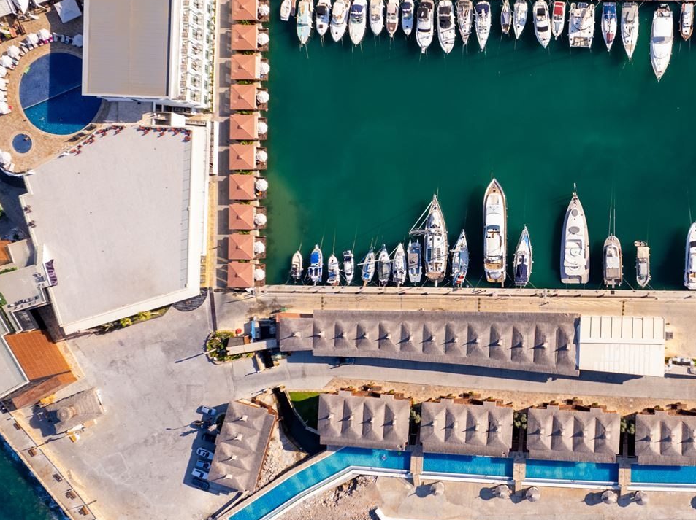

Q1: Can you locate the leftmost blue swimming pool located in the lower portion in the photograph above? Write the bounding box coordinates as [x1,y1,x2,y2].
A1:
[226,445,412,520]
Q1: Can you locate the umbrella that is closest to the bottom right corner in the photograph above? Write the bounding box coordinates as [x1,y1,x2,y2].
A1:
[634,489,649,504]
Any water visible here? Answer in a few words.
Yes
